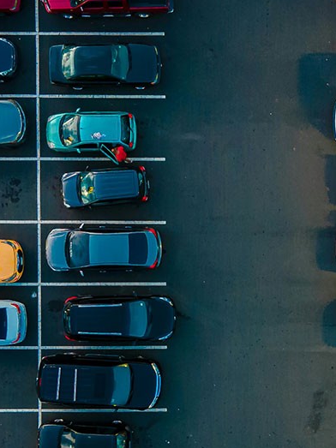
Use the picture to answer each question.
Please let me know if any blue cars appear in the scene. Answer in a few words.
Yes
